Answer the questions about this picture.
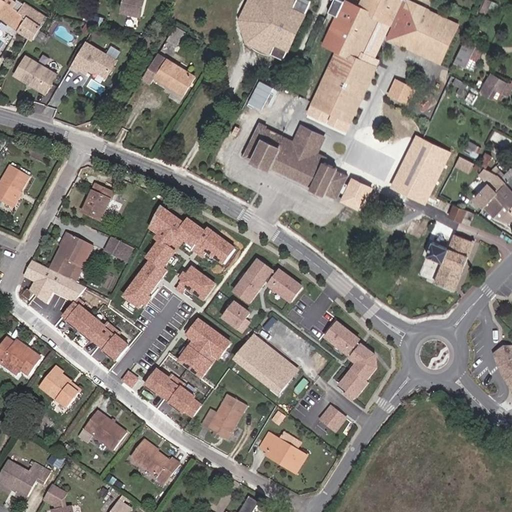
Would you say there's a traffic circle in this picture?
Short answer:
Yes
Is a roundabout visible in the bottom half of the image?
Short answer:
Yes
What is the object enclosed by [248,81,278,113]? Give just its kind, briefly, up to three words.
shed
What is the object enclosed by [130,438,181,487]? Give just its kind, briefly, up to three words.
house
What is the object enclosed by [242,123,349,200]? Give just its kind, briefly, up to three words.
building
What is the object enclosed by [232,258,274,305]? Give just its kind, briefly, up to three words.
house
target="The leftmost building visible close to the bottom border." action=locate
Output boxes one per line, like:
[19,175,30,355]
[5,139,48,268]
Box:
[0,458,51,499]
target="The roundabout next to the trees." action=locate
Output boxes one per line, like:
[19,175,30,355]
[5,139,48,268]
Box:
[403,324,466,386]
